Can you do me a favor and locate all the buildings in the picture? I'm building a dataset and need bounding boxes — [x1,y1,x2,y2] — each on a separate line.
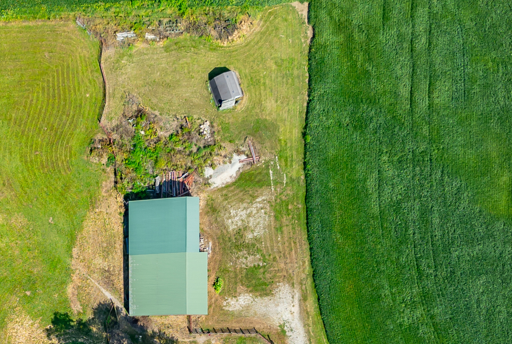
[129,197,207,315]
[208,68,244,117]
